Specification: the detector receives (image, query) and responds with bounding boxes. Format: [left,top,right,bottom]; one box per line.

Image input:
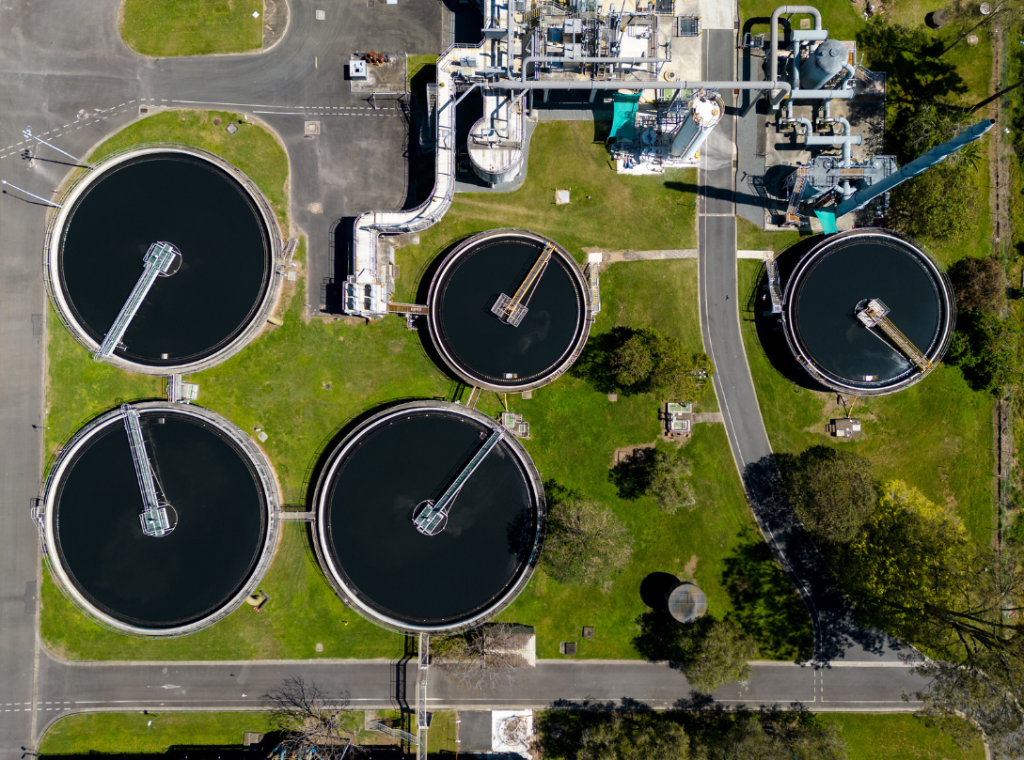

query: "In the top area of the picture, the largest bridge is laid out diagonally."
[89,240,182,365]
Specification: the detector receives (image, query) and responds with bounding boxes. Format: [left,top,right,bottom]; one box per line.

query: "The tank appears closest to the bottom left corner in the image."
[38,400,283,640]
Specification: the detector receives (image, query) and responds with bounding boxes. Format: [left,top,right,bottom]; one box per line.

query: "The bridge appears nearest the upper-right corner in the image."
[853,291,939,372]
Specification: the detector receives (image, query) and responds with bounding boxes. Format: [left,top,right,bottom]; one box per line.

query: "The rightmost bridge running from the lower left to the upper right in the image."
[490,238,559,327]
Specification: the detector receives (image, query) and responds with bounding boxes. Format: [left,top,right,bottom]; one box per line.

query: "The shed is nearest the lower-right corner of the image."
[831,418,861,436]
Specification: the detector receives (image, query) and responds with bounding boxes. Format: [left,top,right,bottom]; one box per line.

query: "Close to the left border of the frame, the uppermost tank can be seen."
[43,140,284,377]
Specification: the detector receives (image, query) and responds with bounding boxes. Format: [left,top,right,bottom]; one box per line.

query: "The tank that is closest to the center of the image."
[426,226,592,393]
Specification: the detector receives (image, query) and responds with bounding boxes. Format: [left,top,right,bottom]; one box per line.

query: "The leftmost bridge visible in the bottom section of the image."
[118,405,180,536]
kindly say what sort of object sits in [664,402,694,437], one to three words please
building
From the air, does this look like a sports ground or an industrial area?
industrial area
